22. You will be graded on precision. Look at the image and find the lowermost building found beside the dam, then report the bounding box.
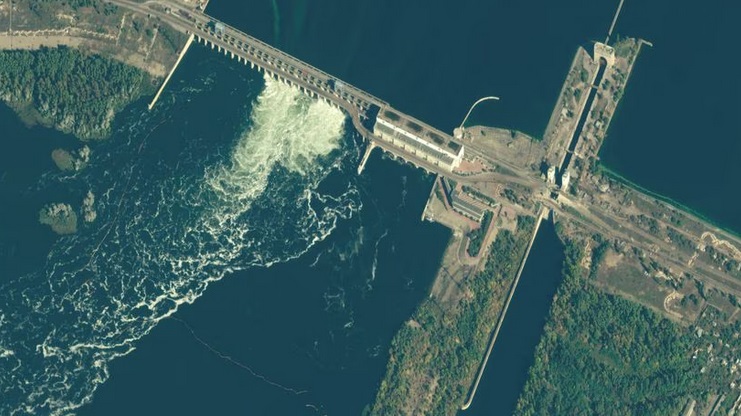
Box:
[365,106,470,182]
